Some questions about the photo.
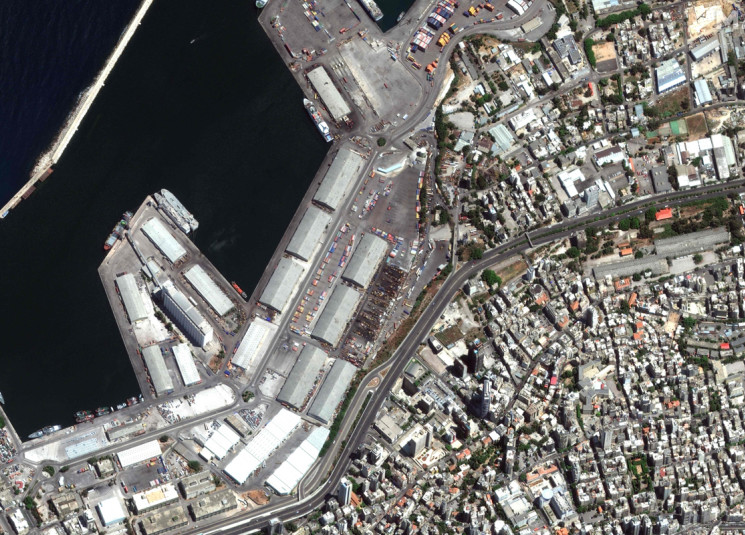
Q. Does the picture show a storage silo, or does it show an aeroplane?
storage silo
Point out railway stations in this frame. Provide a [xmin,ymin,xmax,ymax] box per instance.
[590,227,729,277]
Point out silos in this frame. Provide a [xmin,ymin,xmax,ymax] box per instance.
[162,280,213,347]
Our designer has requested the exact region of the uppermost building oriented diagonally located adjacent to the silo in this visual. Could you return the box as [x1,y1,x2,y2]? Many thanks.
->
[141,218,186,264]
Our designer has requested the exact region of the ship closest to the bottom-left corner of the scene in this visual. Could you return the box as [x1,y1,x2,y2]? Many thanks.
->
[28,424,63,440]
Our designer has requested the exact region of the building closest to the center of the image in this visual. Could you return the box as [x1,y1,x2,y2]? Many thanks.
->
[342,232,389,290]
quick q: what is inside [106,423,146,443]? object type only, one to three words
shed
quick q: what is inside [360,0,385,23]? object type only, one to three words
ship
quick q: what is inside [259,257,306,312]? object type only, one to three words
building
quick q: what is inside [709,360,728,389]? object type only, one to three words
building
